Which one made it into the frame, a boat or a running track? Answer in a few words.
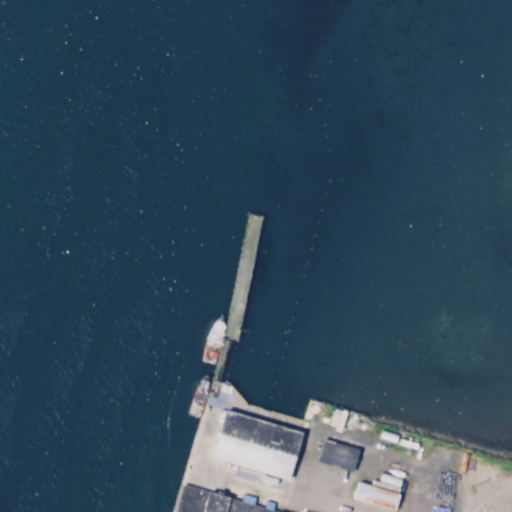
boat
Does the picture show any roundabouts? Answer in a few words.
No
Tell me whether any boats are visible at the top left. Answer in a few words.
No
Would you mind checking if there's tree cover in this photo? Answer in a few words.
No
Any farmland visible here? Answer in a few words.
No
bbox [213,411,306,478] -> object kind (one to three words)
building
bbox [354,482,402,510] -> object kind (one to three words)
shed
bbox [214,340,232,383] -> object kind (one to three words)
pier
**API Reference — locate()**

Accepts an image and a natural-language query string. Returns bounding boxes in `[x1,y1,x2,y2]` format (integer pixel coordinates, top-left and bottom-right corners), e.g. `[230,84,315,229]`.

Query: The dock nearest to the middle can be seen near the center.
[225,213,264,342]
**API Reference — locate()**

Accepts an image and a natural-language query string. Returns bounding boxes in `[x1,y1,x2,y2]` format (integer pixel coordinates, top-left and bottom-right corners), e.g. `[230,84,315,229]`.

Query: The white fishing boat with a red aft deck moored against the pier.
[202,316,224,366]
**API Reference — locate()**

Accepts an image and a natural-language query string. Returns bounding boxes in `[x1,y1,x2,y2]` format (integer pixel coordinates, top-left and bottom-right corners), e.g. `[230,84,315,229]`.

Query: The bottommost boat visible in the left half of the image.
[188,376,210,418]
